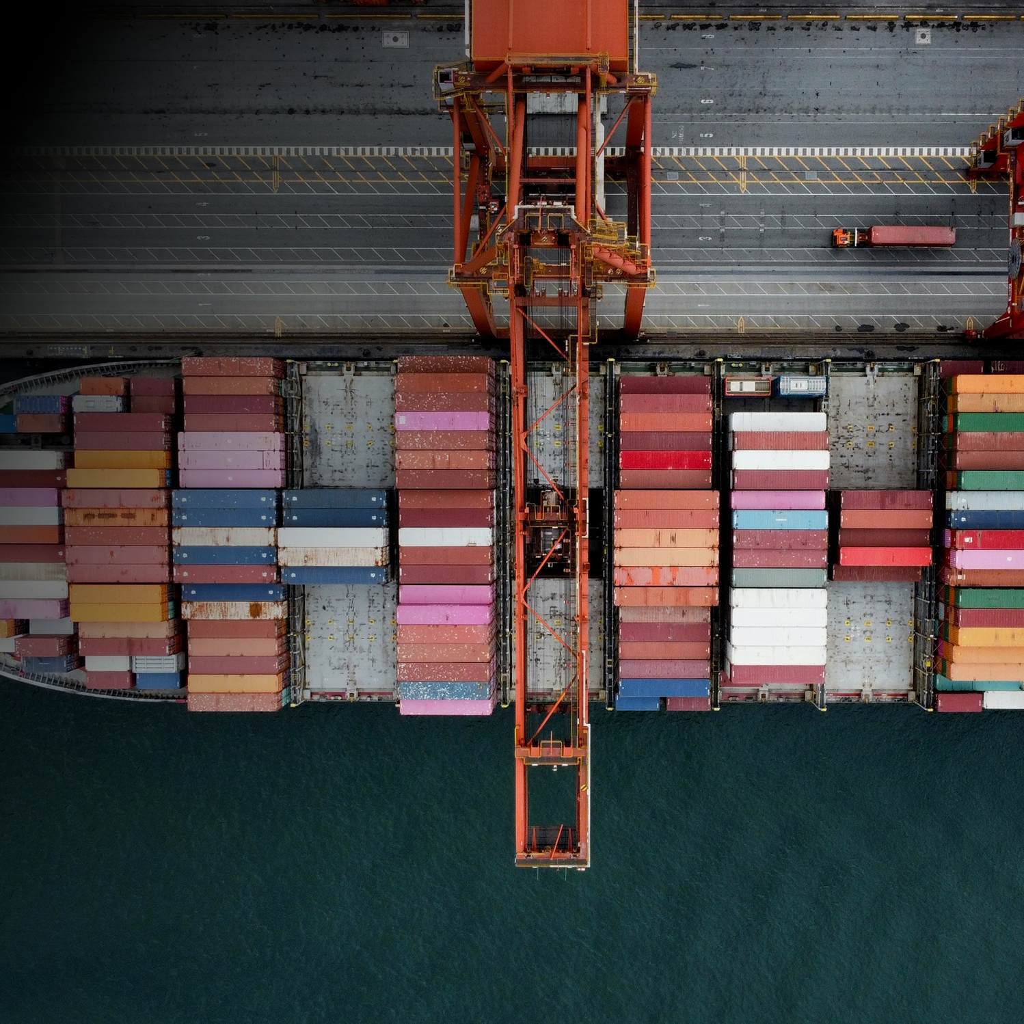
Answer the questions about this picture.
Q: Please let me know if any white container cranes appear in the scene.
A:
No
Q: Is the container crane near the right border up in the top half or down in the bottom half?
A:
top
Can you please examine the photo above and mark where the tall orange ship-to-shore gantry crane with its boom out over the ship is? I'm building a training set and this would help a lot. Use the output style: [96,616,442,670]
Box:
[432,0,657,881]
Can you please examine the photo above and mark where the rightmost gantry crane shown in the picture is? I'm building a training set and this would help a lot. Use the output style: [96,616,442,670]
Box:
[961,91,1024,344]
